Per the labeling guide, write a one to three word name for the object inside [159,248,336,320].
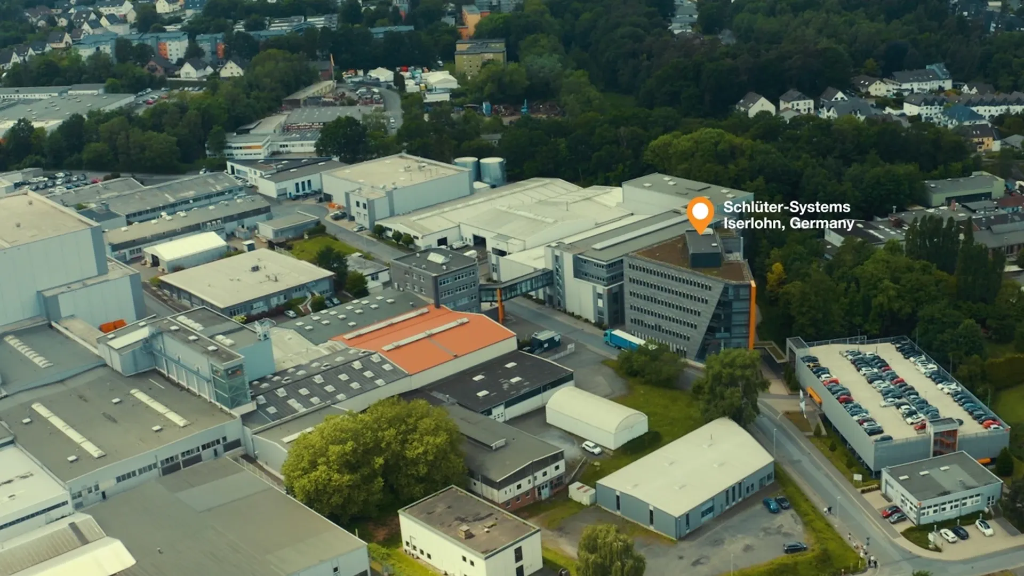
building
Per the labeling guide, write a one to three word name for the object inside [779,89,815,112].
house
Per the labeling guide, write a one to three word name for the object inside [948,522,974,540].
car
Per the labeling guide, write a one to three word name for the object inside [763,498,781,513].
car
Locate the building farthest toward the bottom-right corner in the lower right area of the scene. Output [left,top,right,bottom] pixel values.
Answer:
[880,451,1011,526]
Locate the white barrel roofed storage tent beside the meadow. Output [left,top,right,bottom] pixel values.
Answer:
[545,383,648,449]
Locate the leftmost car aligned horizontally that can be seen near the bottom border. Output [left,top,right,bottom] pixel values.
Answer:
[781,542,809,554]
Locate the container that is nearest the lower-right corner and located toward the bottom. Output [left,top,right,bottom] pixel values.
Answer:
[566,480,596,507]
